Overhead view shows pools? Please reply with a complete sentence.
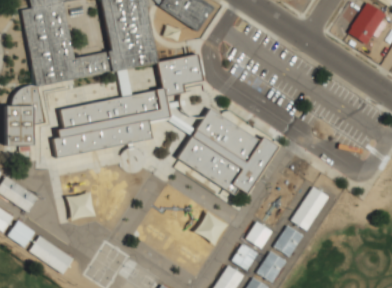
No, this view has no pool in it.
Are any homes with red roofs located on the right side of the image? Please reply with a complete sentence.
Yes, the scene does show a home with a red roof on the right side of the image.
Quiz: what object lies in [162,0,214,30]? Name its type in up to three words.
building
